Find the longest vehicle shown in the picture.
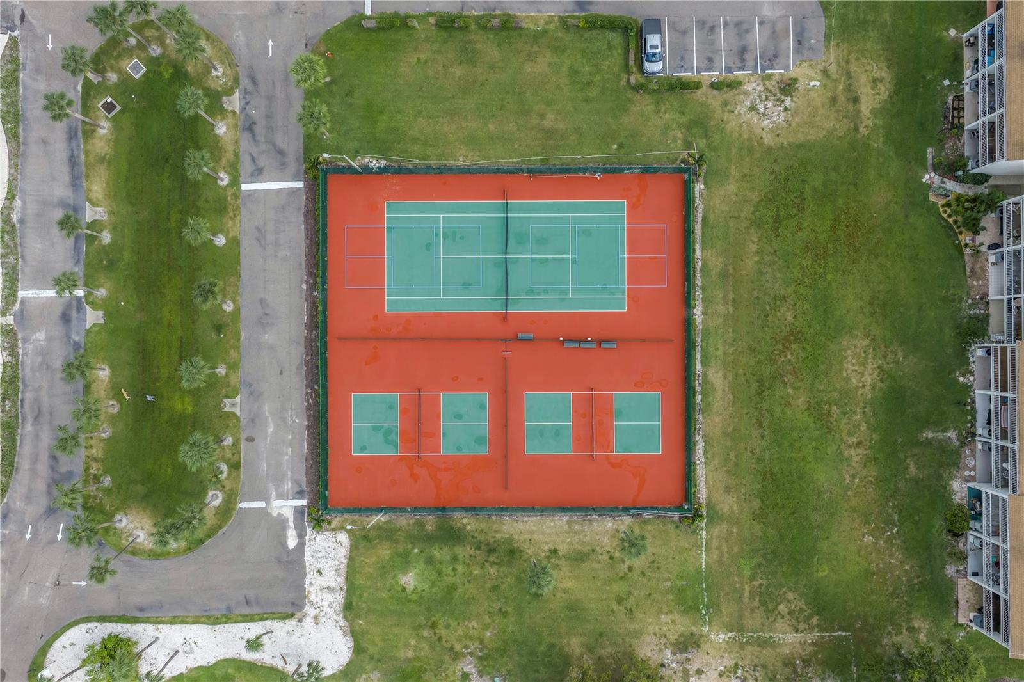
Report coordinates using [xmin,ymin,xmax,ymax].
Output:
[641,18,666,75]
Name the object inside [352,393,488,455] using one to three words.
sports court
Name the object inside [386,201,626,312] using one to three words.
tennis court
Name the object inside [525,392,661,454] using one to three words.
sports court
